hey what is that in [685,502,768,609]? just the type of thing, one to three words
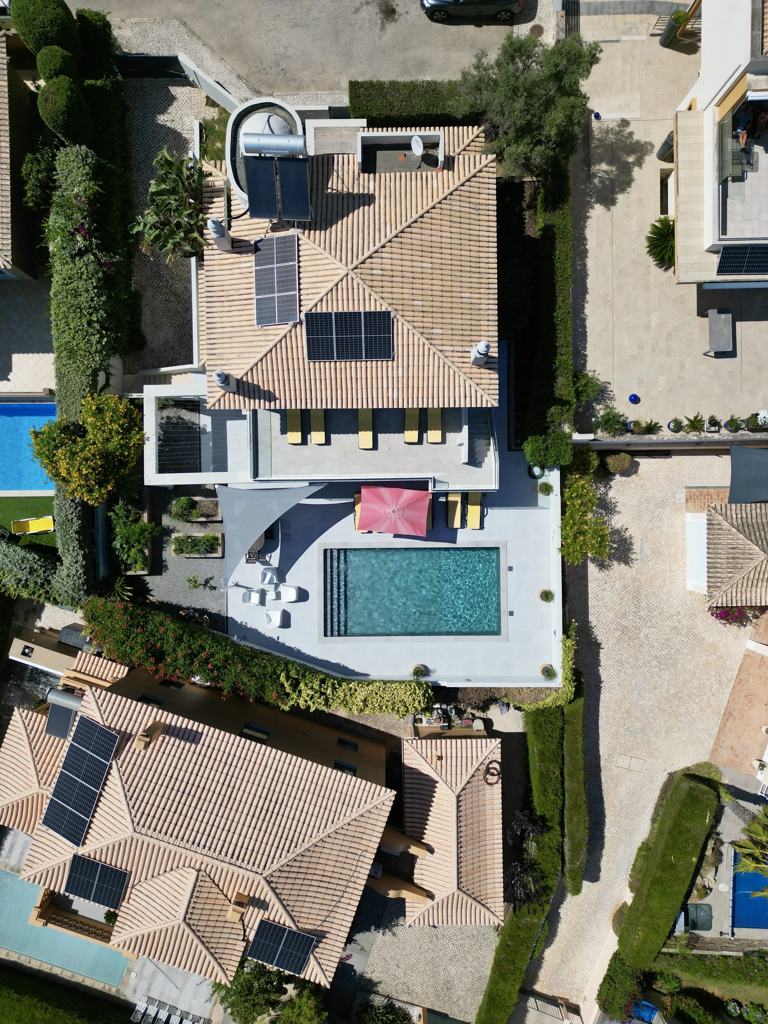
shed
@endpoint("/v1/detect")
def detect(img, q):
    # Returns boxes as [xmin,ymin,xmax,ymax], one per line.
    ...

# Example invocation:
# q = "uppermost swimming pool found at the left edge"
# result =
[0,400,62,498]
